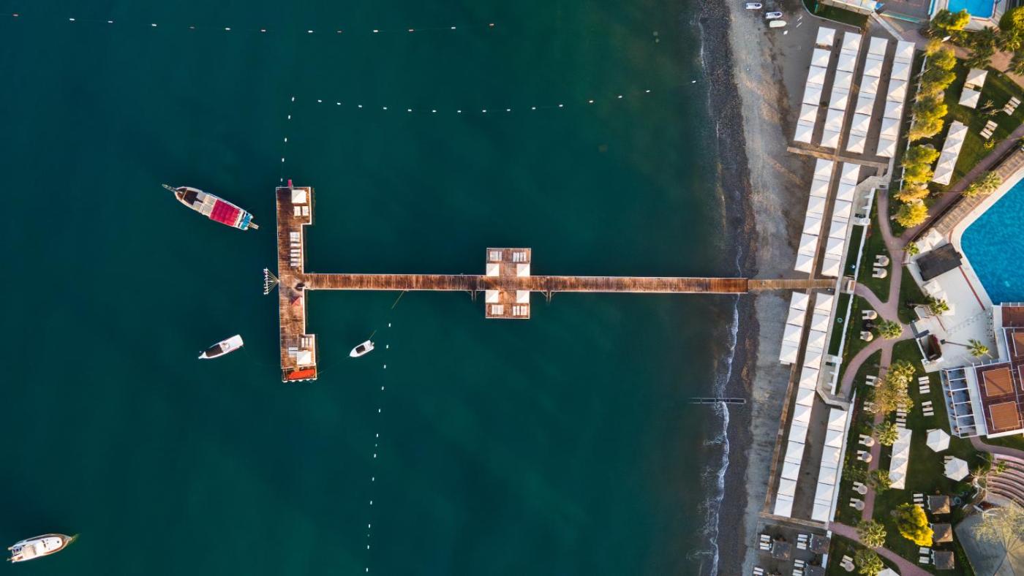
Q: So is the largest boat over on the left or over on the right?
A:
left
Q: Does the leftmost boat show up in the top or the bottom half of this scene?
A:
bottom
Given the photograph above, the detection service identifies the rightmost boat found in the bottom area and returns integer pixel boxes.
[349,341,375,357]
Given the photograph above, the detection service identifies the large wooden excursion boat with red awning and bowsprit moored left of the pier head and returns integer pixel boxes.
[163,185,259,231]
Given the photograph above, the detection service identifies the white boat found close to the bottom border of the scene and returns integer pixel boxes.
[8,534,77,562]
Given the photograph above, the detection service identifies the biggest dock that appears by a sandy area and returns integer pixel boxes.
[276,187,748,383]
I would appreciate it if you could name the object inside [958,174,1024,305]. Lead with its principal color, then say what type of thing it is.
blue swimming pool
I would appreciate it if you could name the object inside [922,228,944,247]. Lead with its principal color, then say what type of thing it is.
white umbrella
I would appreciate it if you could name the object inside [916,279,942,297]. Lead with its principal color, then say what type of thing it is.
white umbrella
